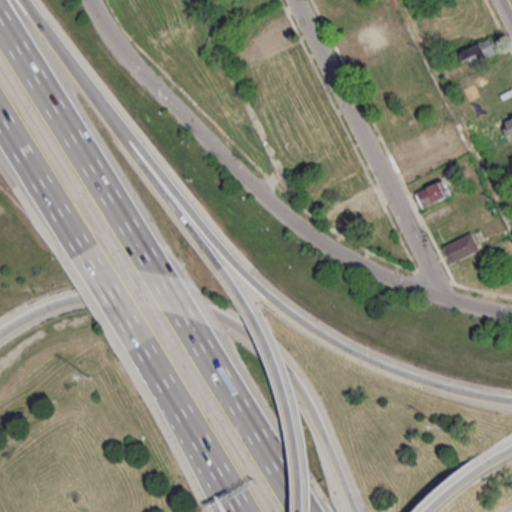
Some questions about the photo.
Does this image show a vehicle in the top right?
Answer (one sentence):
No, no vehicle can be made out in the top right.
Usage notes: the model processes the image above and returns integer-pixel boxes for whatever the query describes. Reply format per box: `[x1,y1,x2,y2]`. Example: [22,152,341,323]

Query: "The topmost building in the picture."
[460,34,498,67]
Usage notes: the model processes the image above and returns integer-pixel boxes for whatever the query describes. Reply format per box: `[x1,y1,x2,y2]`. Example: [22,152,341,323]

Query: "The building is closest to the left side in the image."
[415,182,454,209]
